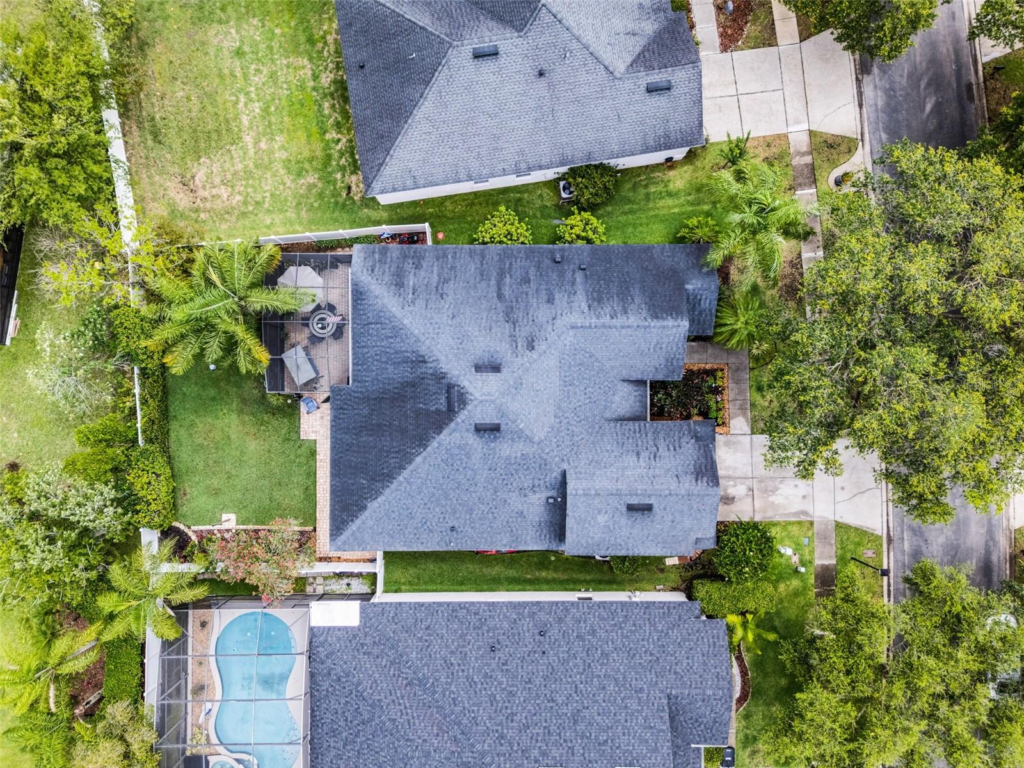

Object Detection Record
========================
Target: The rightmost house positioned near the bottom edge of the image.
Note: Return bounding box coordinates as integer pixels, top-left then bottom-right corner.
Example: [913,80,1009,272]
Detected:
[309,589,736,768]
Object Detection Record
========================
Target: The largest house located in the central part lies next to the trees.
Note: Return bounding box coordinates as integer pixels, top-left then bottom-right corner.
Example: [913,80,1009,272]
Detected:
[329,244,722,556]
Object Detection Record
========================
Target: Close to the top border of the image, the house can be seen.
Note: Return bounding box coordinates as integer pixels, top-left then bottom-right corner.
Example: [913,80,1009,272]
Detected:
[334,0,705,202]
